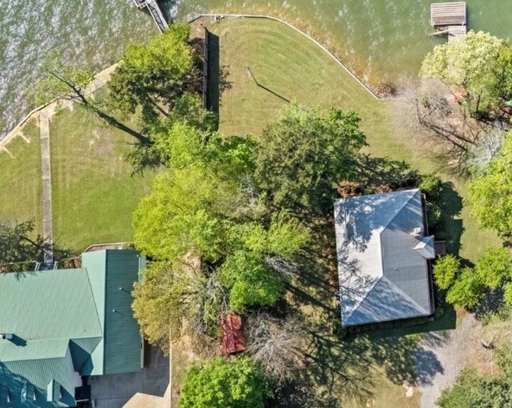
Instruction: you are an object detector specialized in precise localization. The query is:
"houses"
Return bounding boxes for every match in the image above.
[334,188,441,326]
[0,249,148,408]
